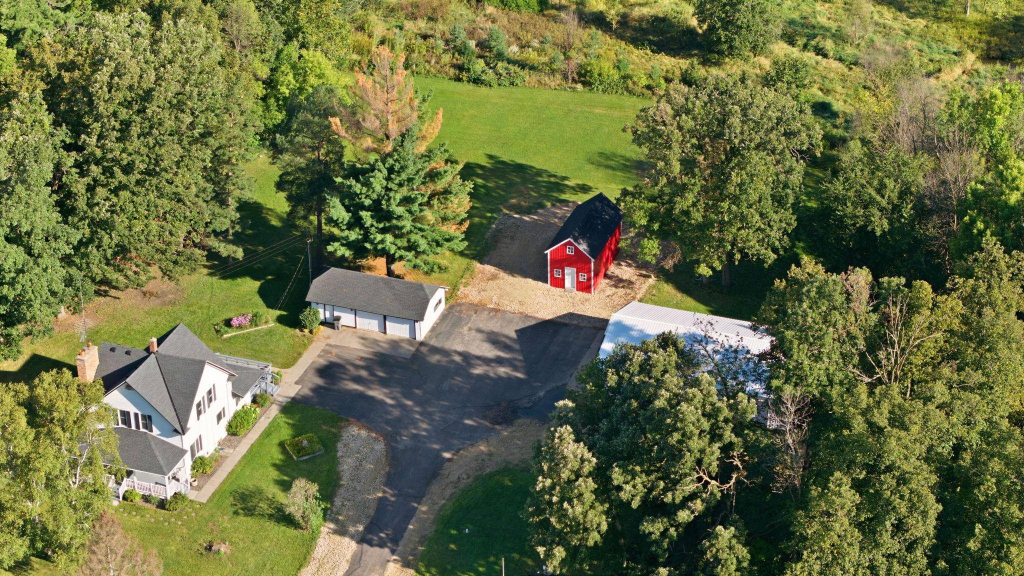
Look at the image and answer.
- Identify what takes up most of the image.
trees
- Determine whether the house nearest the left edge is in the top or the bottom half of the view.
bottom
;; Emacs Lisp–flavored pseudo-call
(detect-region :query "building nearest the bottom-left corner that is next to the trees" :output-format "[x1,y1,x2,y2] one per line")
[75,321,286,501]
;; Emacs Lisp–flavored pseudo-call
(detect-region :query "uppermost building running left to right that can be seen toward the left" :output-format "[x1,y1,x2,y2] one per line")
[307,264,450,340]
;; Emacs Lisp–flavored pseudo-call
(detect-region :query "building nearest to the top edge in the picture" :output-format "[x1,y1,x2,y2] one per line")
[545,193,625,295]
